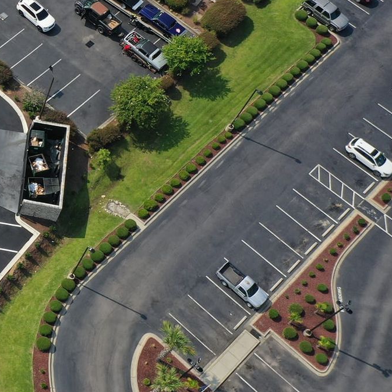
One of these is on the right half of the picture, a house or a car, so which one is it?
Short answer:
car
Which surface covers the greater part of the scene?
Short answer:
paved ground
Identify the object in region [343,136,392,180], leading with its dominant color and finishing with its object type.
white car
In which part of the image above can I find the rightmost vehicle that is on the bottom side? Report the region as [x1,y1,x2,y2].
[212,259,272,313]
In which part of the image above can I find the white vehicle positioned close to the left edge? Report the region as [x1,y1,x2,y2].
[16,0,56,32]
